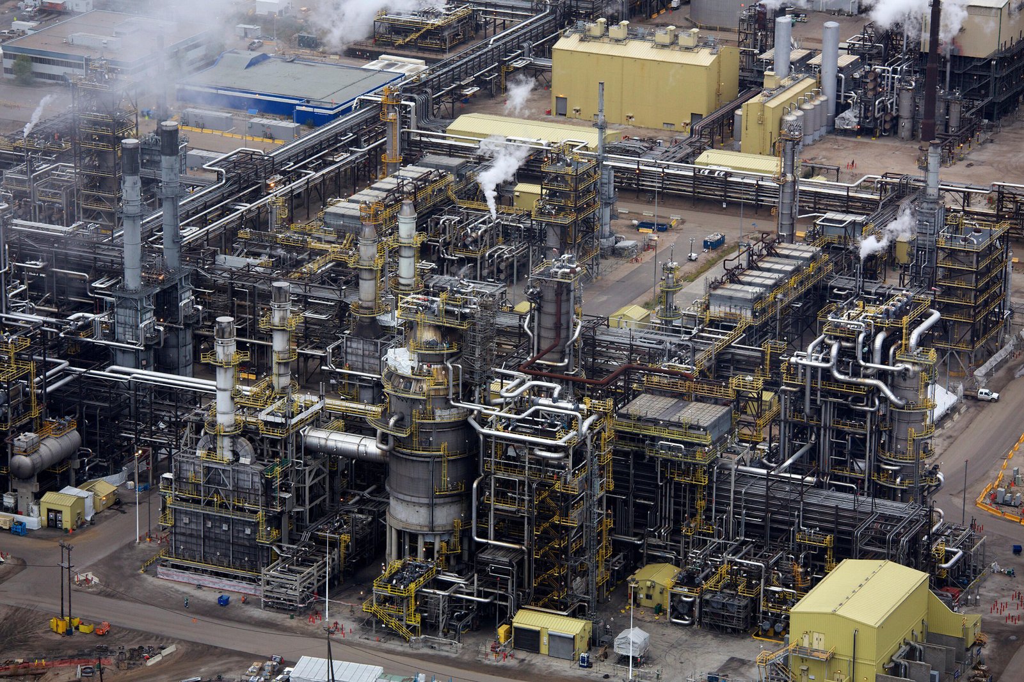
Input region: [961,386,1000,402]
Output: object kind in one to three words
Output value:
vehicle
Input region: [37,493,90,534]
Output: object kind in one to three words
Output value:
shed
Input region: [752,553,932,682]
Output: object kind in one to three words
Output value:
building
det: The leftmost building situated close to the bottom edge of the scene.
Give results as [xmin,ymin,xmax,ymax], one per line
[510,609,591,660]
